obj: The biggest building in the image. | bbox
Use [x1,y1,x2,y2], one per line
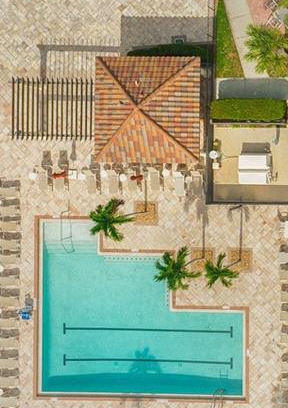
[92,56,211,165]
